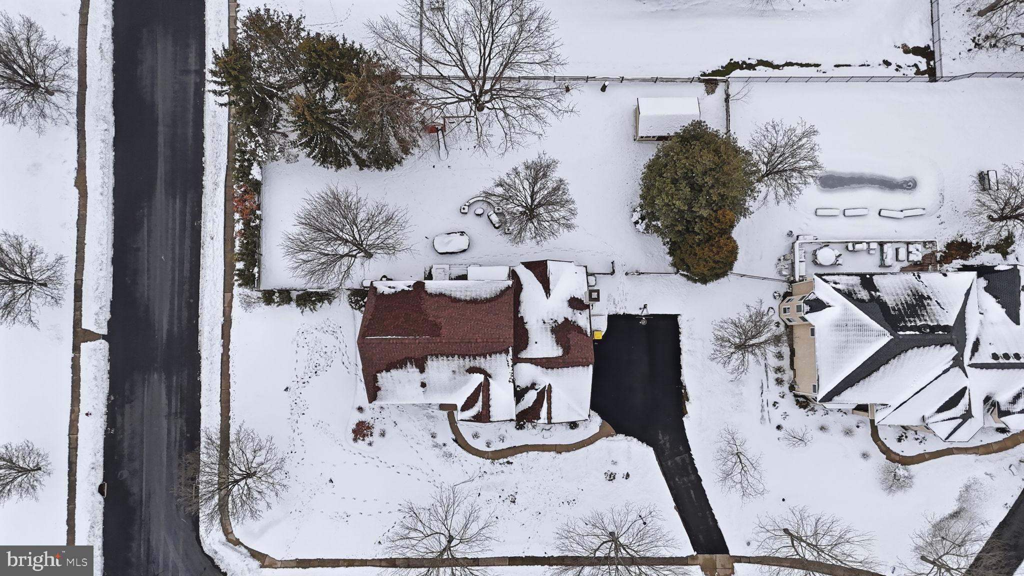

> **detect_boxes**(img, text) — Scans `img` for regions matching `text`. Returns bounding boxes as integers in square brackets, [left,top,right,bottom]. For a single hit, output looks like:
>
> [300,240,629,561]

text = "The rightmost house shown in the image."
[780,268,1024,444]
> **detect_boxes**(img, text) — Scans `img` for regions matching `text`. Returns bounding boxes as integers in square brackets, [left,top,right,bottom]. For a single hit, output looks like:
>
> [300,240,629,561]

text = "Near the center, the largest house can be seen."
[357,261,600,425]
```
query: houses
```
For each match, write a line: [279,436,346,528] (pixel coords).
[357,261,600,425]
[780,268,1024,444]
